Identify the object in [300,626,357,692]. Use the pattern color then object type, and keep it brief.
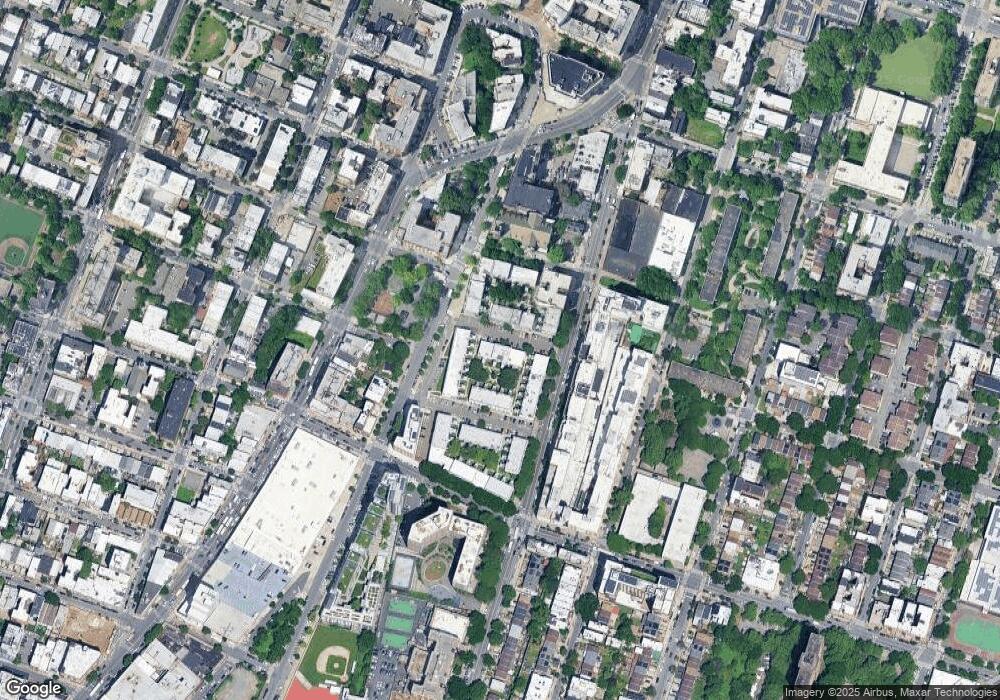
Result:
green baseball field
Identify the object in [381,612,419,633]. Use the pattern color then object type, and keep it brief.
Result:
green tennis court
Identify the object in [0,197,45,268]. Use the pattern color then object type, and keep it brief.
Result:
green baseball field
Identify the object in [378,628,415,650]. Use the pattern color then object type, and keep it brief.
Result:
green tennis court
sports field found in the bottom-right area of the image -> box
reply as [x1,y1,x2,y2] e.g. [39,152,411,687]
[956,612,1000,654]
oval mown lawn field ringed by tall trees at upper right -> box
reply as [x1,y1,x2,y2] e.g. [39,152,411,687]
[875,32,944,101]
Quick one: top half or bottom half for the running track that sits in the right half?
bottom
